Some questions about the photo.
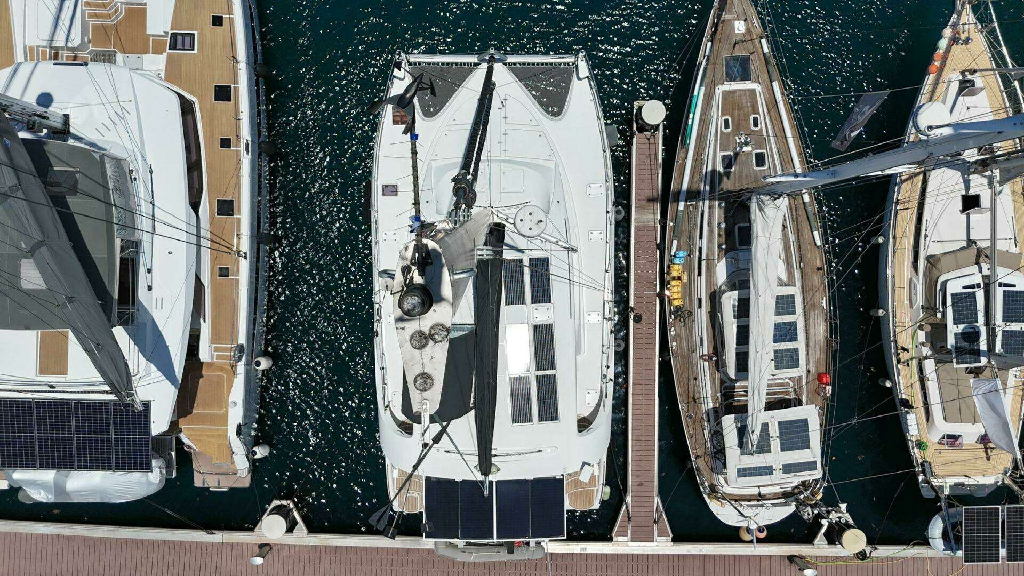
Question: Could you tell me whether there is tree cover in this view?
No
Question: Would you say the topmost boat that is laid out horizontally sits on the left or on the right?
left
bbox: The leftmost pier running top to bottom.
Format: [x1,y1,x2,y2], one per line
[609,100,673,546]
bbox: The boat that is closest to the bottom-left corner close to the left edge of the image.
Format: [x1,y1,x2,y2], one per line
[0,447,166,505]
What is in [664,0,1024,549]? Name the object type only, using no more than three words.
boat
